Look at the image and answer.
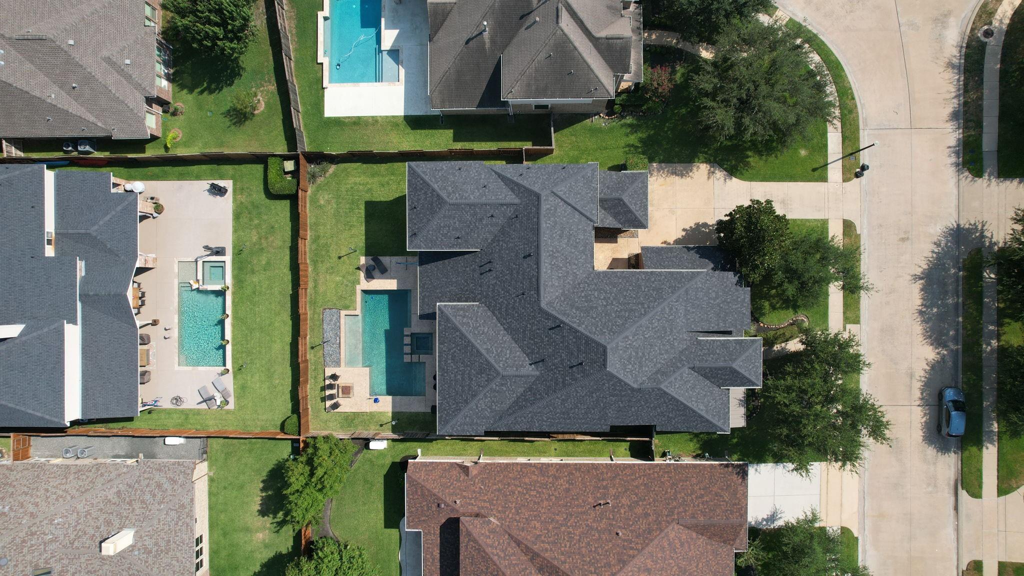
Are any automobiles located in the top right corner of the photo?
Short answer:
No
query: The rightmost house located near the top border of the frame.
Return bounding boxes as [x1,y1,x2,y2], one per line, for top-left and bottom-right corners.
[426,0,644,116]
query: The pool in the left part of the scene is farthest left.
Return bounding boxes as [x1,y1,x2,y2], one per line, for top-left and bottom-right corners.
[175,250,232,370]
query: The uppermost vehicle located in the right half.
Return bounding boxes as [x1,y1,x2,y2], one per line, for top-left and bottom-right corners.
[937,385,970,438]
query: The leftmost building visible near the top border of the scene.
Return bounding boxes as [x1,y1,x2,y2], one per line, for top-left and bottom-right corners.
[0,0,172,140]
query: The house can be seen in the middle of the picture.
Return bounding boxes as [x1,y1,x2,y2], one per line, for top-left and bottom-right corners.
[406,160,763,435]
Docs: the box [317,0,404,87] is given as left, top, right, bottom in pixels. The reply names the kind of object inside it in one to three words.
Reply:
swimming pool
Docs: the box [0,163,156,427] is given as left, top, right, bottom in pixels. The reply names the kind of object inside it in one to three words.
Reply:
house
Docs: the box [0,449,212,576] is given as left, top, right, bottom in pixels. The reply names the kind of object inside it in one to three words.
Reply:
house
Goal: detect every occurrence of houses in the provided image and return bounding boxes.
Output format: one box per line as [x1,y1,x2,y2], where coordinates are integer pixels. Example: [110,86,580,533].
[426,0,644,116]
[0,0,172,140]
[404,447,749,576]
[0,449,212,576]
[0,163,156,427]
[406,160,763,435]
